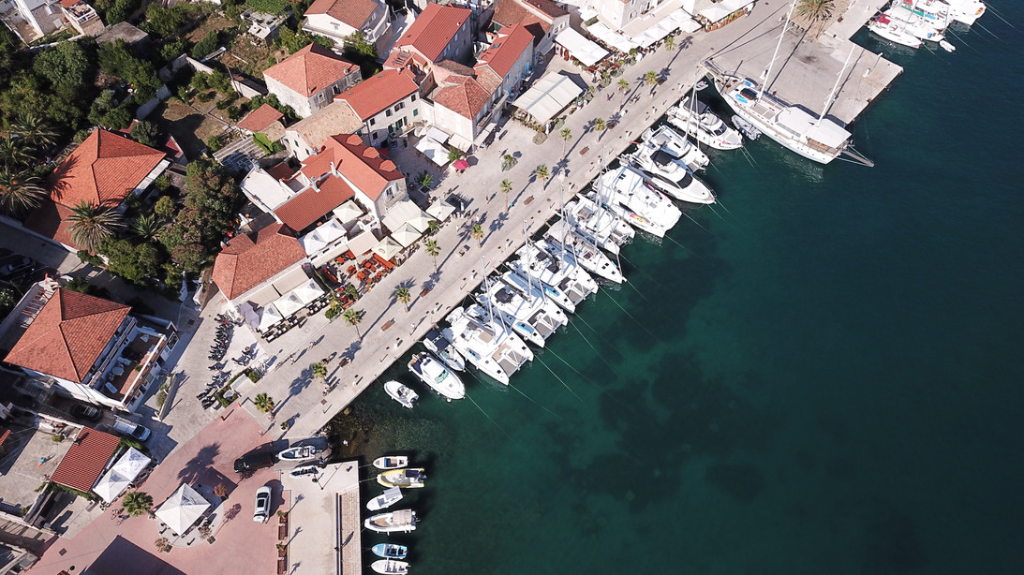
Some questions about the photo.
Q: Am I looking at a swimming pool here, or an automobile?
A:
automobile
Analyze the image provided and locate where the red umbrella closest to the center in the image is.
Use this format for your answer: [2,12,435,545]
[454,160,469,176]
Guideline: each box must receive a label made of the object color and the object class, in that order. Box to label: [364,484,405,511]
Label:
white boat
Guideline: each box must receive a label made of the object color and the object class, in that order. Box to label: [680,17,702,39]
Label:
white umbrella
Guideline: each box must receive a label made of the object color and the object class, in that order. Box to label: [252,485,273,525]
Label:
white car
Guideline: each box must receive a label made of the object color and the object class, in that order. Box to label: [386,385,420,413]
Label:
white boat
